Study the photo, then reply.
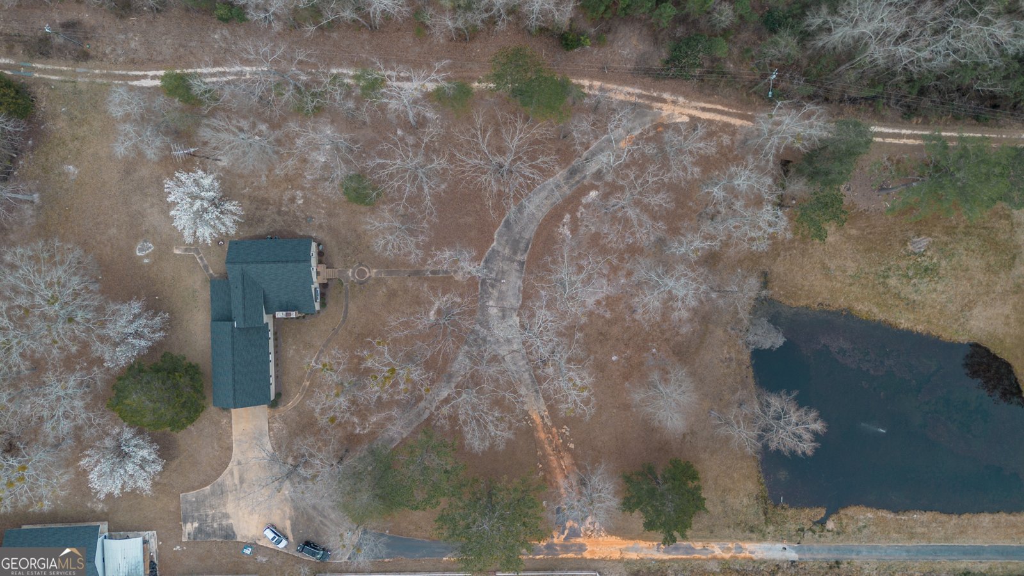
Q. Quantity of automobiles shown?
two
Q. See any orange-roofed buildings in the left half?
No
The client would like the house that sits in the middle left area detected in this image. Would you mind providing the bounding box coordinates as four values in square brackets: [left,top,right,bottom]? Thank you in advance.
[211,239,342,409]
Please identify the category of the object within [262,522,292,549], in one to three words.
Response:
car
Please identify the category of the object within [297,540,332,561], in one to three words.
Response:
car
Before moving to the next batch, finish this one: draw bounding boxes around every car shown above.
[262,522,292,549]
[297,540,332,561]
